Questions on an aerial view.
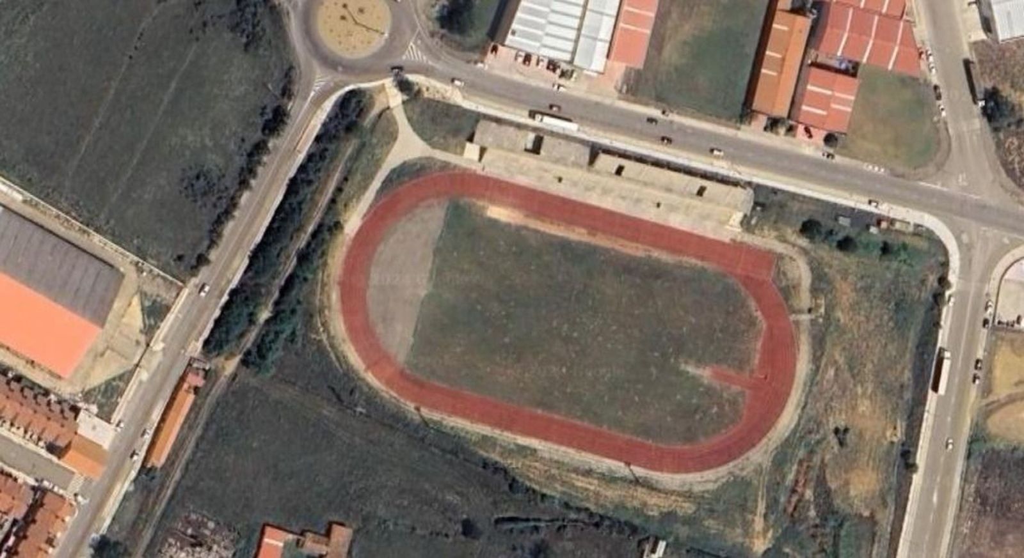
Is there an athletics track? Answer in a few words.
Yes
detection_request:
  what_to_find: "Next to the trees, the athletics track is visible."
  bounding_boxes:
[339,172,797,475]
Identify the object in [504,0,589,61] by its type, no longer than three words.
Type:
building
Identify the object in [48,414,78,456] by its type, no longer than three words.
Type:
house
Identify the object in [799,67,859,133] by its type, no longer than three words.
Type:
building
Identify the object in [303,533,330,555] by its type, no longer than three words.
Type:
shed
